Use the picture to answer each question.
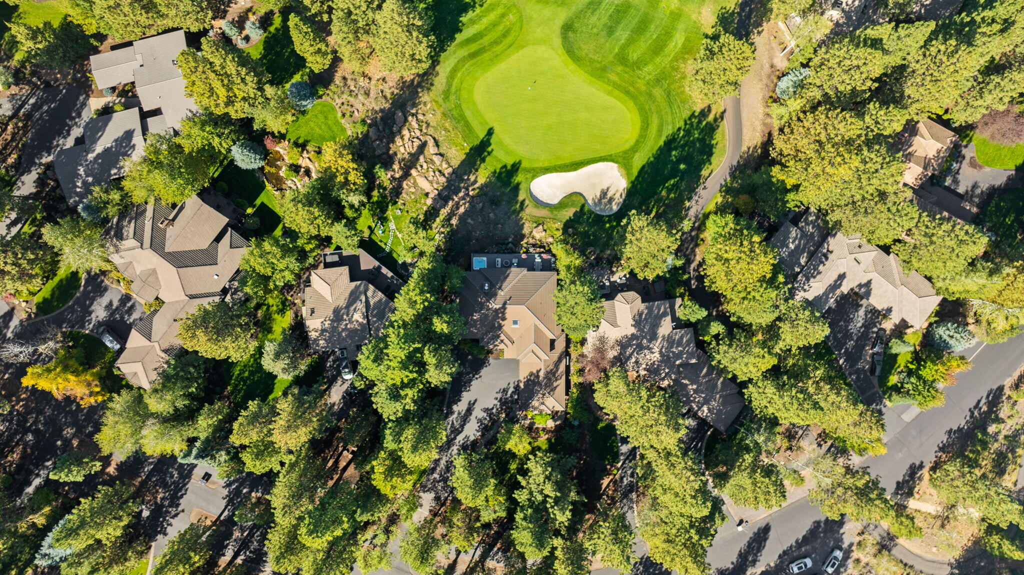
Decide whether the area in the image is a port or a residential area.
residential area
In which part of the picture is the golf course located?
top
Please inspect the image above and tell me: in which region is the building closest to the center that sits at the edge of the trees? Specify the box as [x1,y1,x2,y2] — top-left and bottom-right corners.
[460,268,566,414]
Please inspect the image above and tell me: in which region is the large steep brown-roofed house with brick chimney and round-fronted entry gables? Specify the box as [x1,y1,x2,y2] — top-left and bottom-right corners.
[101,194,248,389]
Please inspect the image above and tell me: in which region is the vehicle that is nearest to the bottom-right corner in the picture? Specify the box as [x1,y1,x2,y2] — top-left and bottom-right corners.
[823,551,844,575]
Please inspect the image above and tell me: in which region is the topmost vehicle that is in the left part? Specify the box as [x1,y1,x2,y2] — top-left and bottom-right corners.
[94,327,120,352]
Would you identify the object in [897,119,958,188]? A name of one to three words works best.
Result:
house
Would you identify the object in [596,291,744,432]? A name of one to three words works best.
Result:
house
